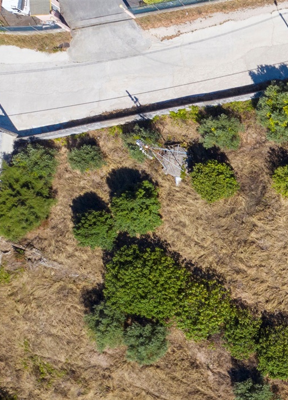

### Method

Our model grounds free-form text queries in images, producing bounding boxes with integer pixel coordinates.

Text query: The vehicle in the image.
[0,0,32,24]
